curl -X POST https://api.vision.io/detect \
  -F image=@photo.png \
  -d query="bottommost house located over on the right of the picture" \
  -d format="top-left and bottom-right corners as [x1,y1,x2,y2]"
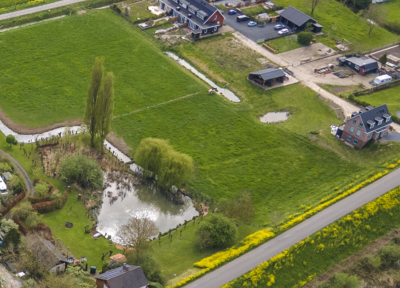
[343,104,392,146]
